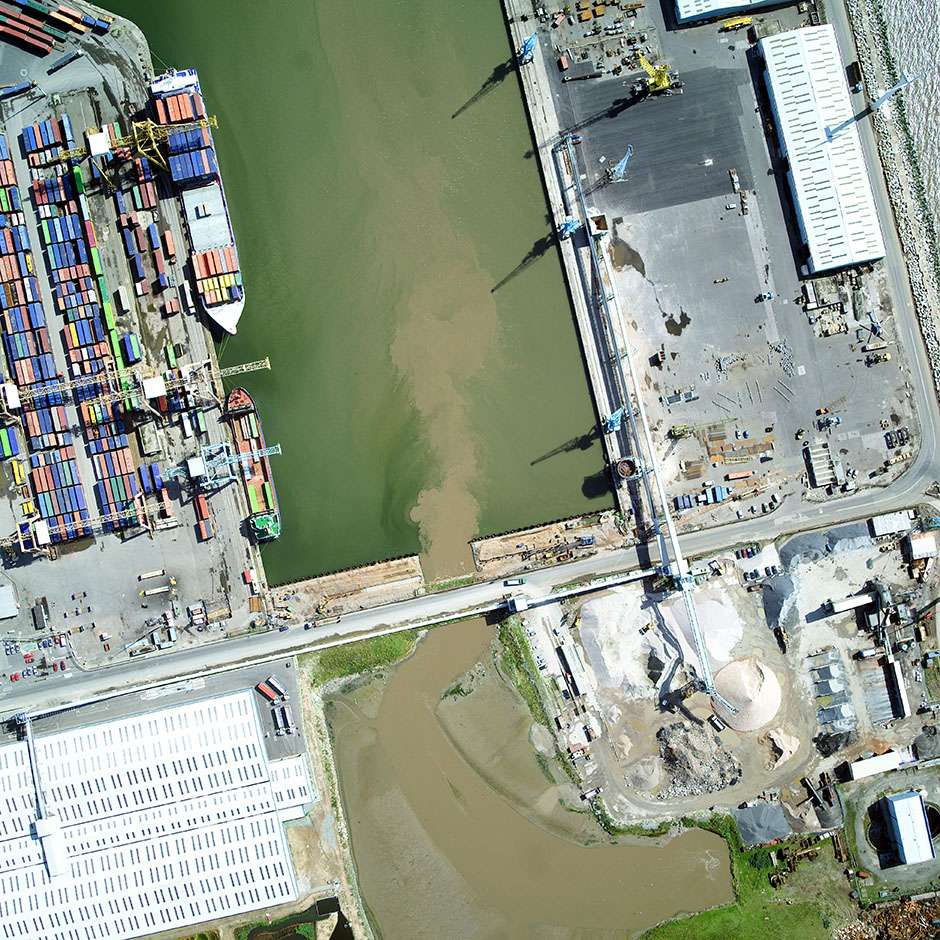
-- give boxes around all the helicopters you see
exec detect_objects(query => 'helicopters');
[870,311,893,340]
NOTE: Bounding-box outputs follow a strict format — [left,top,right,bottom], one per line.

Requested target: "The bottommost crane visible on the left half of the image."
[0,492,169,562]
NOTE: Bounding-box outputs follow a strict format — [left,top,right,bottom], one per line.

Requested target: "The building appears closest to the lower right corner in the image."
[883,786,935,866]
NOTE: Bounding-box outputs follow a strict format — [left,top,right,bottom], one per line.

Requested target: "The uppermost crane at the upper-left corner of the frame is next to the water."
[57,115,218,199]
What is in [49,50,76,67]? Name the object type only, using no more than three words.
vehicle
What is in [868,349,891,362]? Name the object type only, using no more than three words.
vehicle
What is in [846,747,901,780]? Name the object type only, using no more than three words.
shed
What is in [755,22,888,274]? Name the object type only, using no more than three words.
warehouse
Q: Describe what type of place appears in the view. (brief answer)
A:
port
